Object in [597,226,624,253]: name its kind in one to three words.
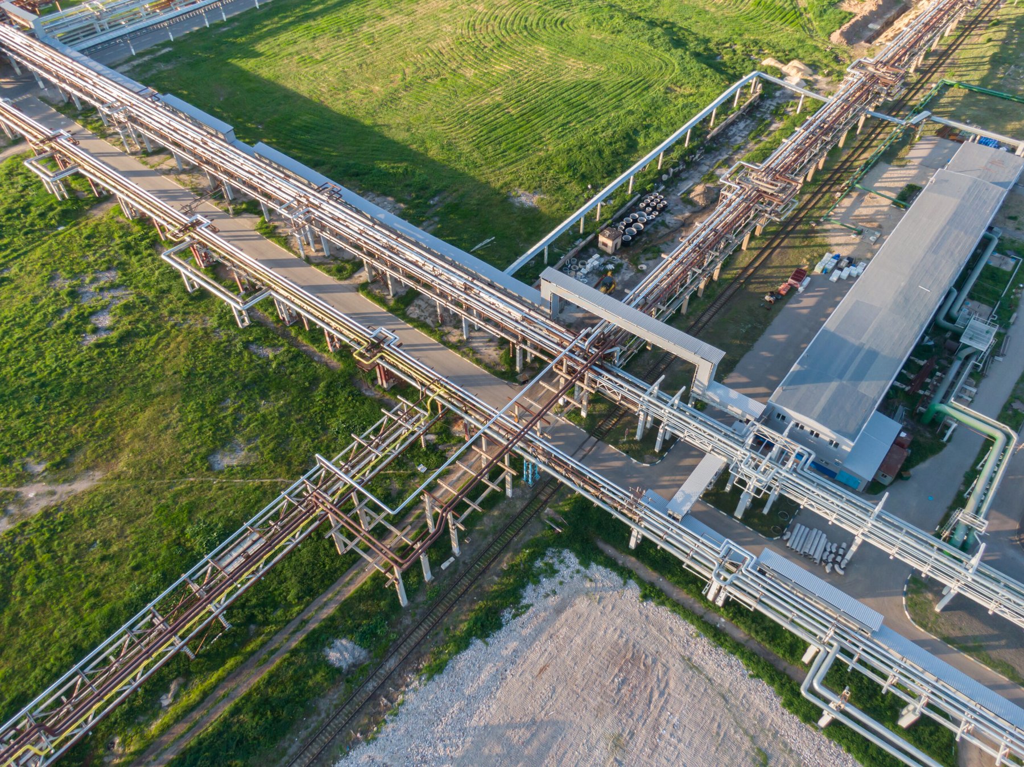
shed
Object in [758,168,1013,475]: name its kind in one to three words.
building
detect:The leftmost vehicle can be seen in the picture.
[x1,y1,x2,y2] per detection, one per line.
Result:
[598,259,617,294]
